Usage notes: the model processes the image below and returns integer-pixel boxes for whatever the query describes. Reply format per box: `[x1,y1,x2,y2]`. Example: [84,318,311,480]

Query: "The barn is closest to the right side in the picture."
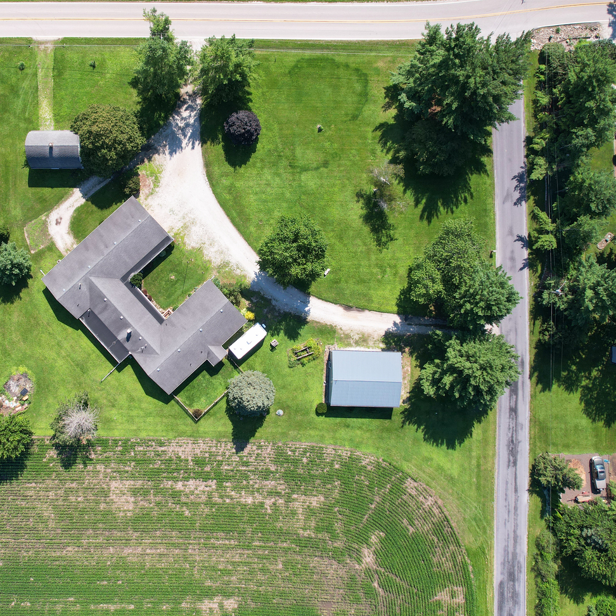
[330,350,402,407]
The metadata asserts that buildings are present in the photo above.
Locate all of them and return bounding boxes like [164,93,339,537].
[40,195,249,395]
[330,350,402,407]
[24,130,82,170]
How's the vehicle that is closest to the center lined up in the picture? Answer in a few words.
on a diagonal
